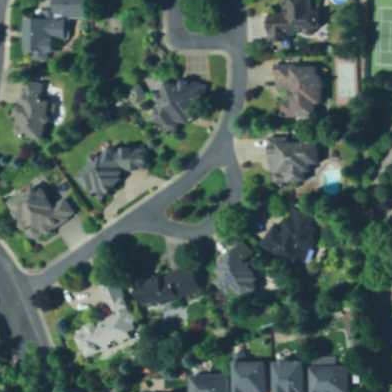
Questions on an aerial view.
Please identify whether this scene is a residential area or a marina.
residential area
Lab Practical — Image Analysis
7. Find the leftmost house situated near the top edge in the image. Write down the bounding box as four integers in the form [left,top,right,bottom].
[21,0,84,60]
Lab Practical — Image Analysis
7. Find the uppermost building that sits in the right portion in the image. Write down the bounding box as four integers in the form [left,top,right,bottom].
[265,0,321,42]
